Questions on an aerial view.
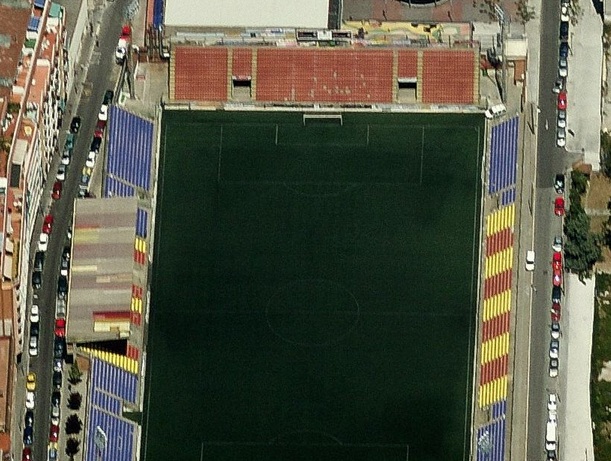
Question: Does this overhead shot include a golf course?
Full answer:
No, the picture doesn't show any golf course.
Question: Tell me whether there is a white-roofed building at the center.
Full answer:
No, no white-roofed building appears at the center.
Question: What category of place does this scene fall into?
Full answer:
This image shows a sports ground.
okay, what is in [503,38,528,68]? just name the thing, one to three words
building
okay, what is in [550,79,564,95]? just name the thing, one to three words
vehicle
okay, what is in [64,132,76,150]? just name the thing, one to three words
vehicle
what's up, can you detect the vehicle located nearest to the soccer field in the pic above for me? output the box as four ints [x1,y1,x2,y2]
[483,103,505,120]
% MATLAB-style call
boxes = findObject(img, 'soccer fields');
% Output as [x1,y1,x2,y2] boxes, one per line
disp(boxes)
[121,110,485,461]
